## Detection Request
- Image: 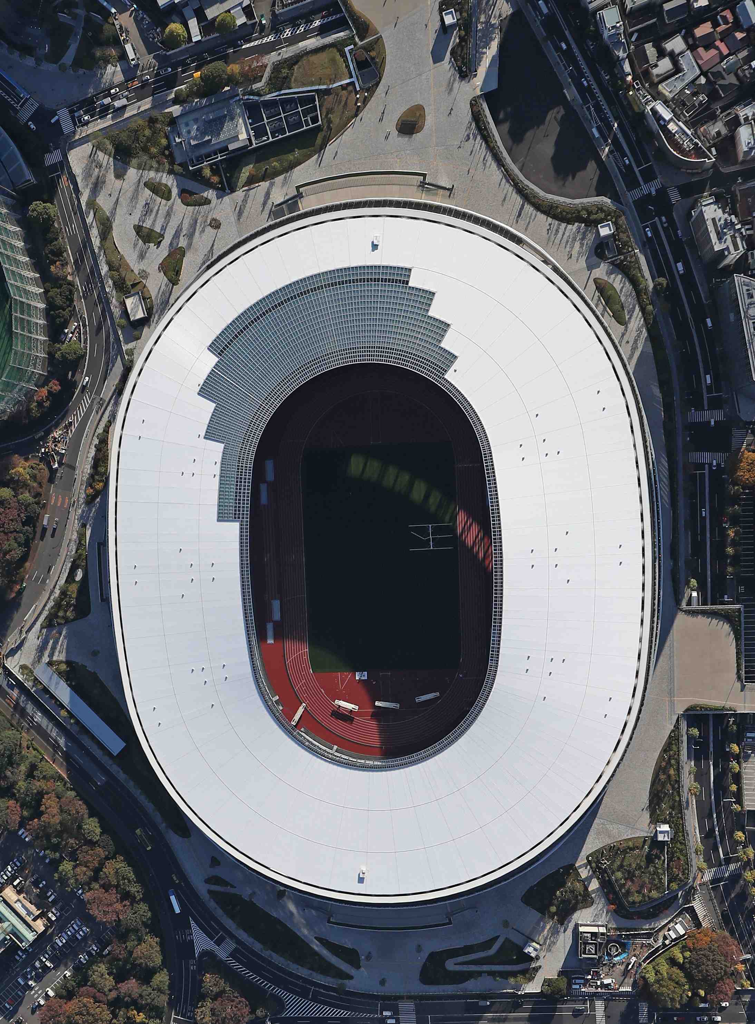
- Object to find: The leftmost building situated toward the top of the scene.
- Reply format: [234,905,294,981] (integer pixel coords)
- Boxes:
[0,125,42,195]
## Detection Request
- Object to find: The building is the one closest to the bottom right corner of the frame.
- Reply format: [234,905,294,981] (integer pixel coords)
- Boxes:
[663,915,690,939]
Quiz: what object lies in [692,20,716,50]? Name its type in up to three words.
house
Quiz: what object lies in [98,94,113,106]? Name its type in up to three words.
vehicle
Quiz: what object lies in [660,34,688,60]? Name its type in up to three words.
building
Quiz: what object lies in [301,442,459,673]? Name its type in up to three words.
sports field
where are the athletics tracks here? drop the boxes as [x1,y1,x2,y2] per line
[251,366,490,758]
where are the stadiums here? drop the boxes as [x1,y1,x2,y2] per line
[106,198,664,909]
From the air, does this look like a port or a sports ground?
sports ground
